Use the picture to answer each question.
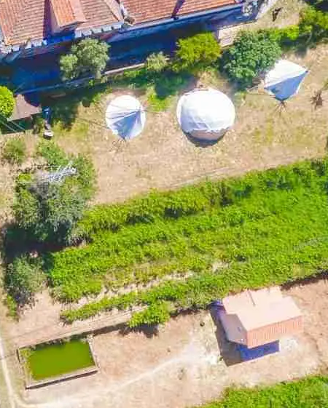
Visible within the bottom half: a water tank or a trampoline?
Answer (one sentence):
You can see a water tank within the bottom half.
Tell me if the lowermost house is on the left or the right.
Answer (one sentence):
The lowermost house sits on the right side.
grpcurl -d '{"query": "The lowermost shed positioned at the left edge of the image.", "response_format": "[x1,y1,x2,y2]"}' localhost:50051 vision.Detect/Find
[7,90,43,120]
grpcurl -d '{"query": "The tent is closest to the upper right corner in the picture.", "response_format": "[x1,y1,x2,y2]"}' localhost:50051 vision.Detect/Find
[255,53,312,102]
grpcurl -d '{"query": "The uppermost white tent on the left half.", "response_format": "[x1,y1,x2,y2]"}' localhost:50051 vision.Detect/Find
[97,94,154,147]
